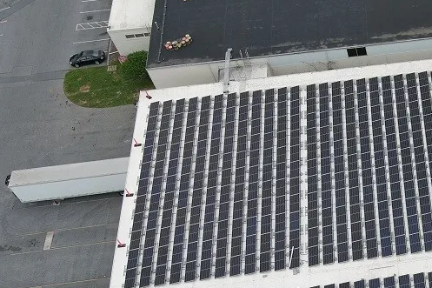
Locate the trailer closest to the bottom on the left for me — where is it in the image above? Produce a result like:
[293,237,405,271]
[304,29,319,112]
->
[3,156,129,205]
